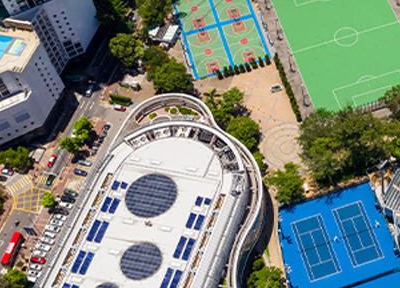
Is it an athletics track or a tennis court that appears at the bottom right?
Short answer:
tennis court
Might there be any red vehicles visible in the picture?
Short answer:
Yes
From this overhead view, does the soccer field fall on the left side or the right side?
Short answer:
right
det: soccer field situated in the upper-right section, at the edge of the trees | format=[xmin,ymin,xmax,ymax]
[272,0,400,114]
